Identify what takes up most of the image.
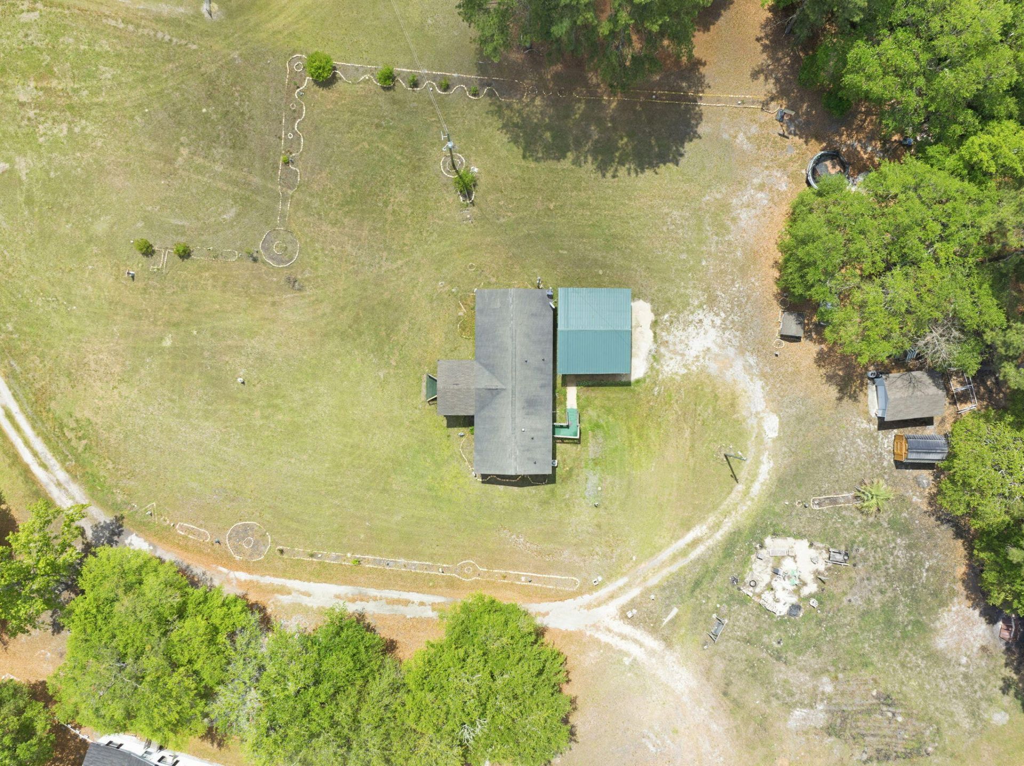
grass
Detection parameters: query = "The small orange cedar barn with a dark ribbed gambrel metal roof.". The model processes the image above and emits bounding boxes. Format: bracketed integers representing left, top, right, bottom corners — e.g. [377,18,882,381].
[895,435,952,464]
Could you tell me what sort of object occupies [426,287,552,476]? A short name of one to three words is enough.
house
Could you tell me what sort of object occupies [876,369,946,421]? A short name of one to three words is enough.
shed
